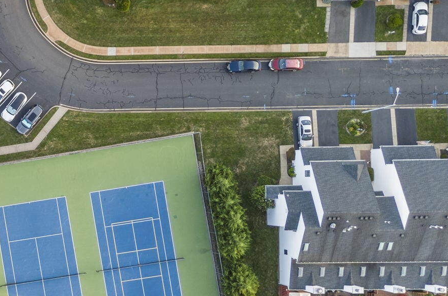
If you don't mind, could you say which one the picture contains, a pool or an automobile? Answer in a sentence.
This aerial view contains an automobile.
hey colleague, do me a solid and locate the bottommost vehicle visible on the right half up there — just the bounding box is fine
[297,115,315,146]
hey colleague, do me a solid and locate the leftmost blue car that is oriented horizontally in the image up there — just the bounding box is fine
[227,59,261,74]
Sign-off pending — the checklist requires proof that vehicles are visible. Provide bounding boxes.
[0,78,15,103]
[269,57,302,72]
[1,92,27,122]
[411,2,430,35]
[16,104,43,134]
[227,59,261,74]
[297,115,315,146]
